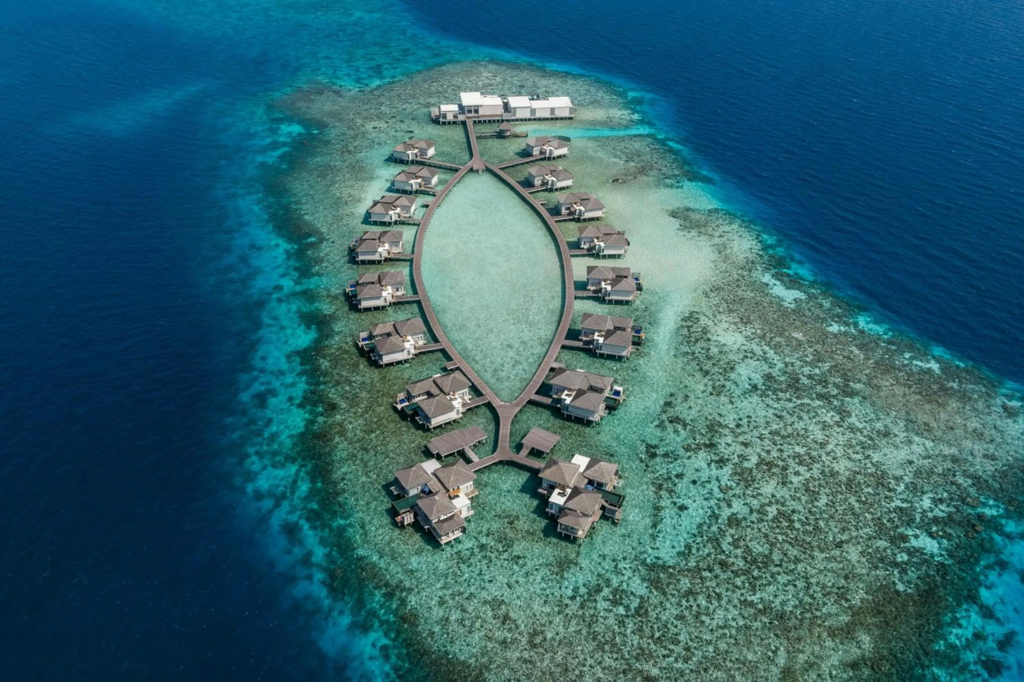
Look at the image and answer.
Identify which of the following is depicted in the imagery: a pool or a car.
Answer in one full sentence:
Of the two, only a pool appears.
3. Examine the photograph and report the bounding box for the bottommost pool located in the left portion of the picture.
[393,494,422,519]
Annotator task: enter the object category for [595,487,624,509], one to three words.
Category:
swimming pool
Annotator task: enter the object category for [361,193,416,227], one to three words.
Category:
house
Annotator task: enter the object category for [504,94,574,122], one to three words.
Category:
building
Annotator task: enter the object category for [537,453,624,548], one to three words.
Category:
house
